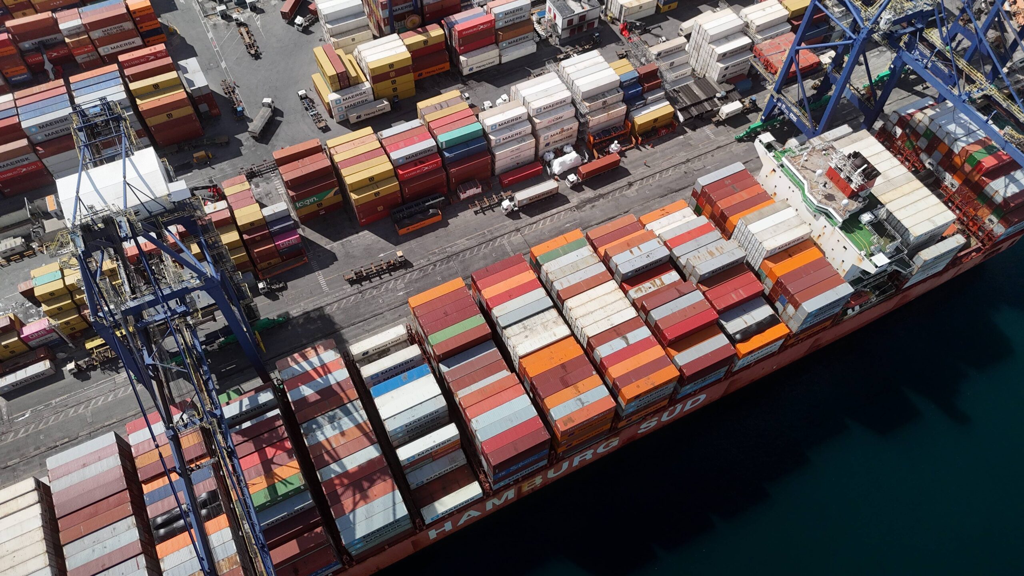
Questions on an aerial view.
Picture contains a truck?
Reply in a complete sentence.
Yes, a truck is visible in the scene.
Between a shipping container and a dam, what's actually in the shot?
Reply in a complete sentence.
The one in the frame is a shipping container.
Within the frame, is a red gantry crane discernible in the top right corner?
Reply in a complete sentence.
No, in the top right corner there is no red gantry crane.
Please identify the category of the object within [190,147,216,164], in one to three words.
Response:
vehicle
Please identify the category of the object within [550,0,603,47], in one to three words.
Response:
building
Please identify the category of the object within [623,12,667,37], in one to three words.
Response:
work vehicle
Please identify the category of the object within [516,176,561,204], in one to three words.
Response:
shipping container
